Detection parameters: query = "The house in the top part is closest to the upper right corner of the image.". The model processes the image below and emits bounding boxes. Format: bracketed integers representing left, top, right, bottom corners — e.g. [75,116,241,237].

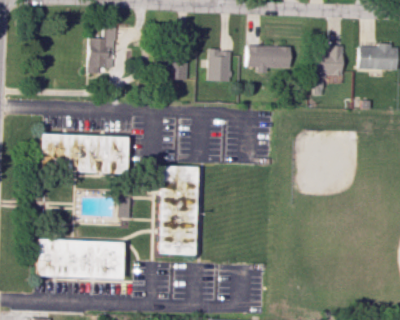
[358,44,400,70]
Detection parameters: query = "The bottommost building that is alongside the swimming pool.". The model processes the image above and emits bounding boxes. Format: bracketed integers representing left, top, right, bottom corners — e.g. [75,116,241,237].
[36,238,126,280]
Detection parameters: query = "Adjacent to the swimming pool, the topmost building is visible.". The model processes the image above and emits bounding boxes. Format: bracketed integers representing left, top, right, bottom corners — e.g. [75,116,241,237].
[40,134,130,174]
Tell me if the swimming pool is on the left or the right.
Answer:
left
